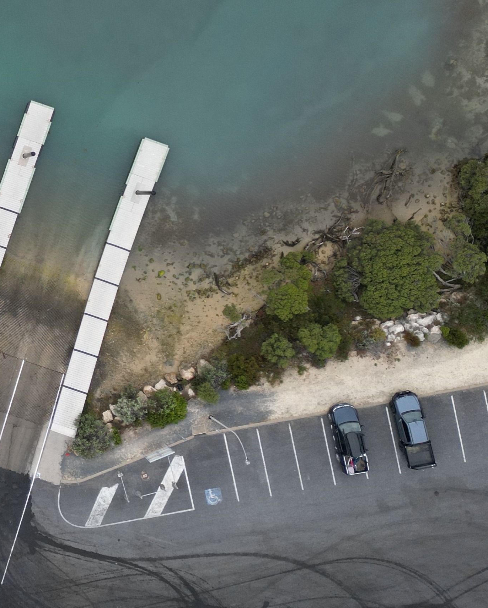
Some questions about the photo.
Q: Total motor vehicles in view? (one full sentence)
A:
The count of motor vehicles comes to 2.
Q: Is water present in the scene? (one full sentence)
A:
Yes, water shows up in the scene.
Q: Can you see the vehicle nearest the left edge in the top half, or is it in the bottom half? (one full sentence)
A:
The vehicle nearest the left edge sits in the bottom half of the picture.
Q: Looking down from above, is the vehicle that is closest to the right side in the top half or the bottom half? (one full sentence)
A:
The vehicle that is closest to the right side sits in the bottom half of the picture.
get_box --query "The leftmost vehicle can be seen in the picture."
[327,403,375,478]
